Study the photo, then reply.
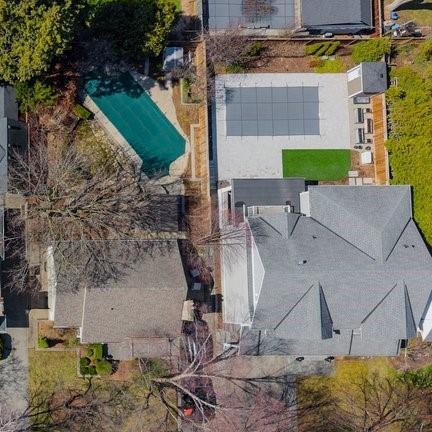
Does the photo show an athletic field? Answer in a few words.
No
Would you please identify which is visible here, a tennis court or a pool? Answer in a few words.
pool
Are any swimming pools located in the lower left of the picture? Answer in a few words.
No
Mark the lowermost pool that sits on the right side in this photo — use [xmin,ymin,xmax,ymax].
[223,82,324,140]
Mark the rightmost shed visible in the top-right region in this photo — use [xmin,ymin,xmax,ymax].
[348,62,386,97]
